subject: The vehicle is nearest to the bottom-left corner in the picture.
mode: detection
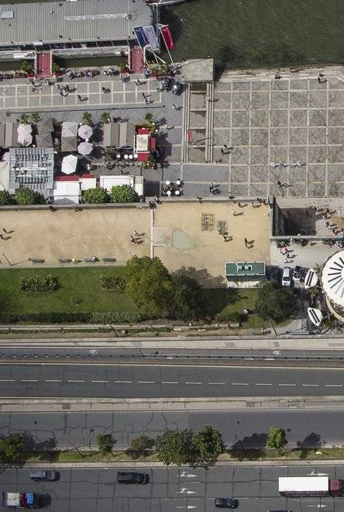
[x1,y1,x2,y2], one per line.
[0,493,34,507]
